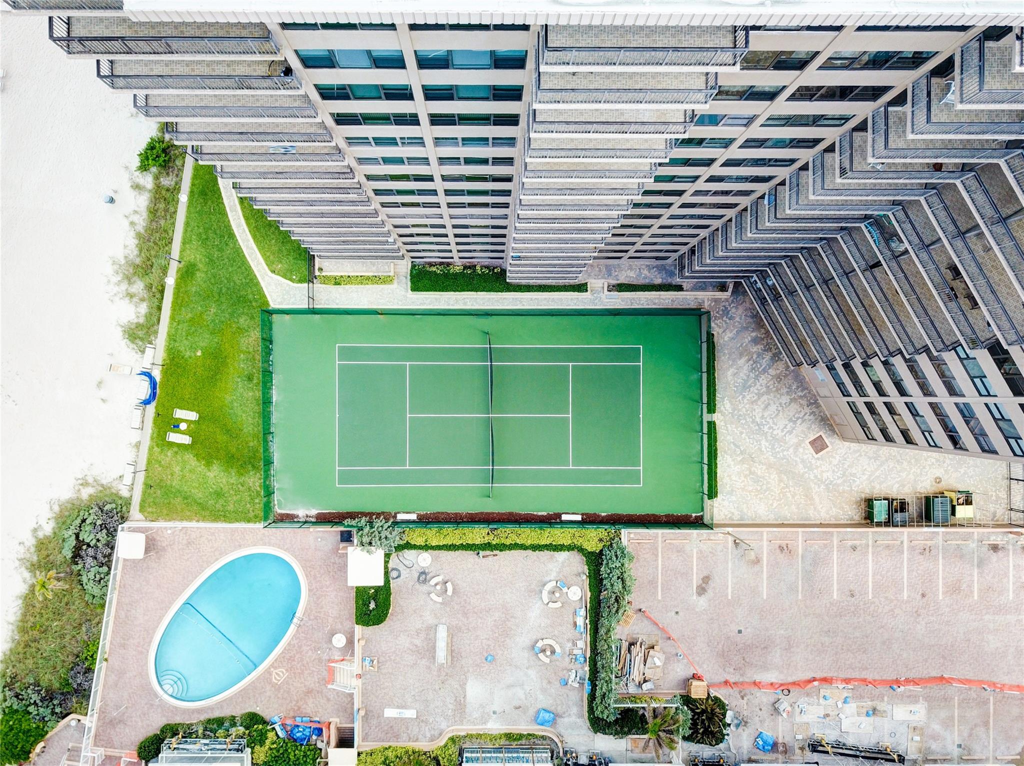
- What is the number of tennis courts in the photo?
1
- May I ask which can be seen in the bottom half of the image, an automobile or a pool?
pool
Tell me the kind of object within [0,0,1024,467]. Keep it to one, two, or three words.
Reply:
building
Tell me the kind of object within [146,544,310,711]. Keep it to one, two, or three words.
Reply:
swimming pool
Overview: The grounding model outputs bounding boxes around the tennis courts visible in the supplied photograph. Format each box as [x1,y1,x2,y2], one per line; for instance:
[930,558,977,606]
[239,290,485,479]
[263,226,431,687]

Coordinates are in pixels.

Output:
[273,315,704,513]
